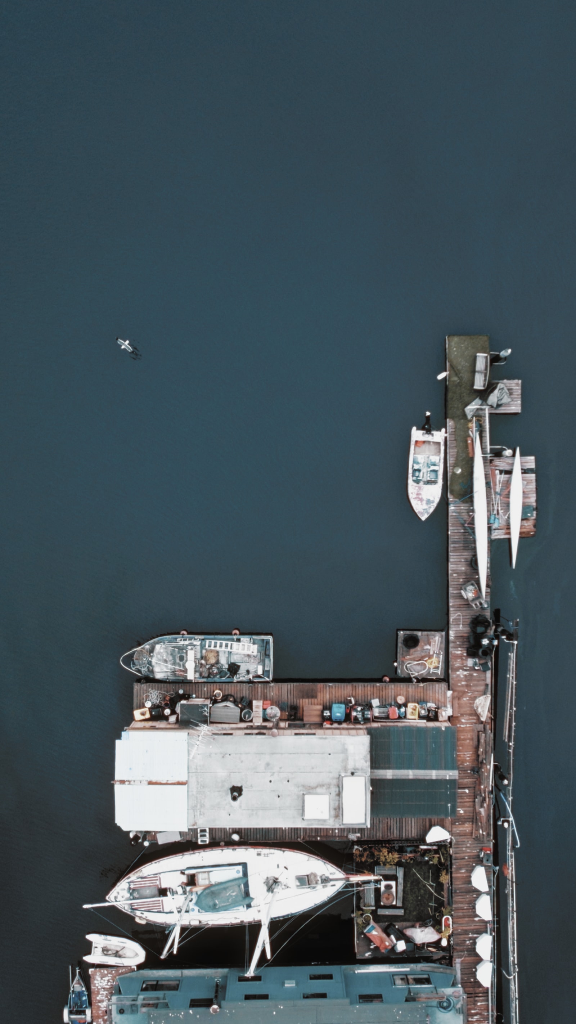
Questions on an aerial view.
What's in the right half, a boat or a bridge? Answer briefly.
boat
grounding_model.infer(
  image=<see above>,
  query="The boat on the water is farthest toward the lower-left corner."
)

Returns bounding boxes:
[63,965,91,1024]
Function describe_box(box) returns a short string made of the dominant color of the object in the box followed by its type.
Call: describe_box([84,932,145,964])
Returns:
white boat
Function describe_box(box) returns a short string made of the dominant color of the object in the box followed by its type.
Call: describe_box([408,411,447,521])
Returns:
white boat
